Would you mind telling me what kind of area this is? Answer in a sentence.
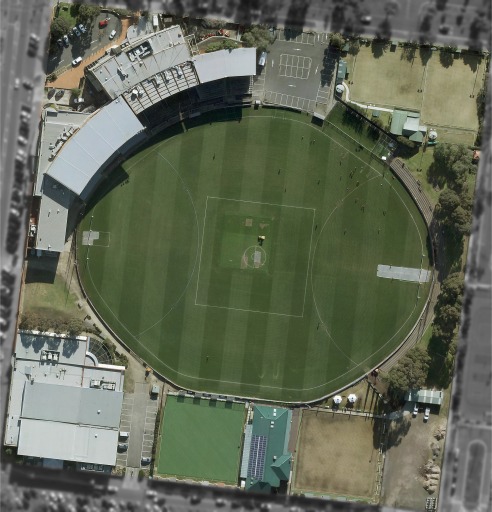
The area seen from above is a sports ground.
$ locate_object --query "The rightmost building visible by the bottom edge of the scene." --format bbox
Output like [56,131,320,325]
[240,404,293,494]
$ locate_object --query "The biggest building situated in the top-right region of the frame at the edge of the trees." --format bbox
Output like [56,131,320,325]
[390,110,426,142]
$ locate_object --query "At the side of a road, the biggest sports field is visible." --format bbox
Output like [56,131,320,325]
[76,104,434,402]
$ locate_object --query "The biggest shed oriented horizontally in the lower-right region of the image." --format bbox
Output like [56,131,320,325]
[405,388,444,404]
